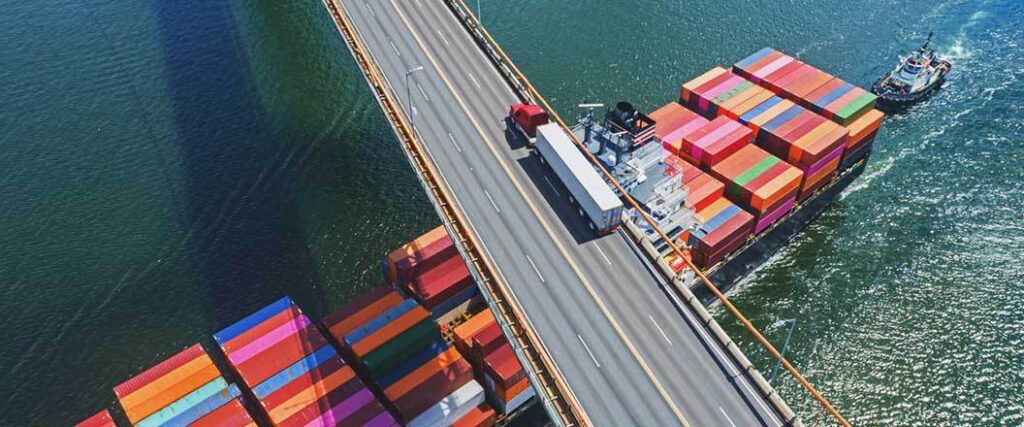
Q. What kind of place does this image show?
port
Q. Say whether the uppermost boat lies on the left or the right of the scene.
right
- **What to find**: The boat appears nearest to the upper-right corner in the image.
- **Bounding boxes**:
[870,27,954,103]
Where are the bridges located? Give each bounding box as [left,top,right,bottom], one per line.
[320,0,854,427]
